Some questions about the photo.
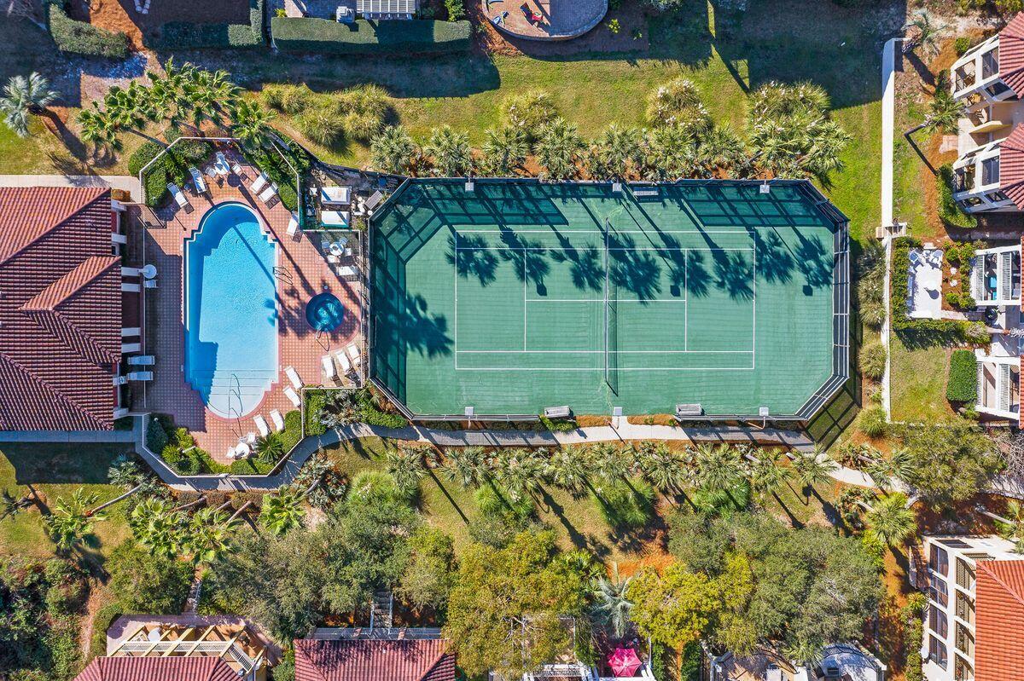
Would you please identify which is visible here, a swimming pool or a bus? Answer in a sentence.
Looking from above, you can make out a swimming pool.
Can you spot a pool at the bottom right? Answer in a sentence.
No, no pool can be made out at the bottom right.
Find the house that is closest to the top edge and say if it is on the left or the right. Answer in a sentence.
You can find the house that is closest to the top edge on the right side of the picture.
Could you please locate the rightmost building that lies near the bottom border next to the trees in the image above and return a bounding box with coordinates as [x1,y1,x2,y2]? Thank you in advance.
[926,538,1024,681]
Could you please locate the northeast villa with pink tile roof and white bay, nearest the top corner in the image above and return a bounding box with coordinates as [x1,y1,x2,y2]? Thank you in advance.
[953,10,1024,123]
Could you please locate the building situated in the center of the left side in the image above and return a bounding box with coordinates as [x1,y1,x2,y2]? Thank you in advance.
[0,185,141,432]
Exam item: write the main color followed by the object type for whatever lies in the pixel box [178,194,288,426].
blue swimming pool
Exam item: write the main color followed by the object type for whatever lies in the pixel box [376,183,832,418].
green tennis court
